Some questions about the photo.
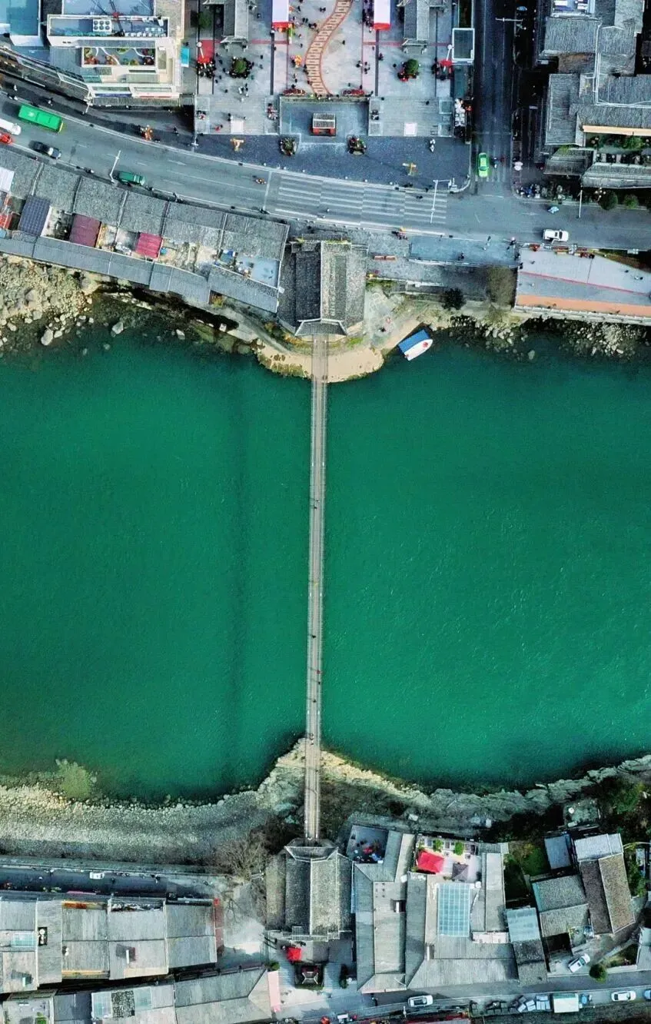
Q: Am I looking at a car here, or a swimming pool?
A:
car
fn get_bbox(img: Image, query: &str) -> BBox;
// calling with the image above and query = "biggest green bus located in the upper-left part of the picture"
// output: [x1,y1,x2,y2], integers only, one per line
[15,101,64,129]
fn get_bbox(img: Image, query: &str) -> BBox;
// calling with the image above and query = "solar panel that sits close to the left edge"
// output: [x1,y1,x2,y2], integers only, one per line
[18,197,50,236]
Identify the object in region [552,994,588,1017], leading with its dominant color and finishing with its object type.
white truck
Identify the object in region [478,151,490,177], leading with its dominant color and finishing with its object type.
green vehicle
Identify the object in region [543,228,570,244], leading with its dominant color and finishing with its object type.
white car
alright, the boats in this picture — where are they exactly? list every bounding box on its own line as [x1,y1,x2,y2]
[399,330,434,362]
